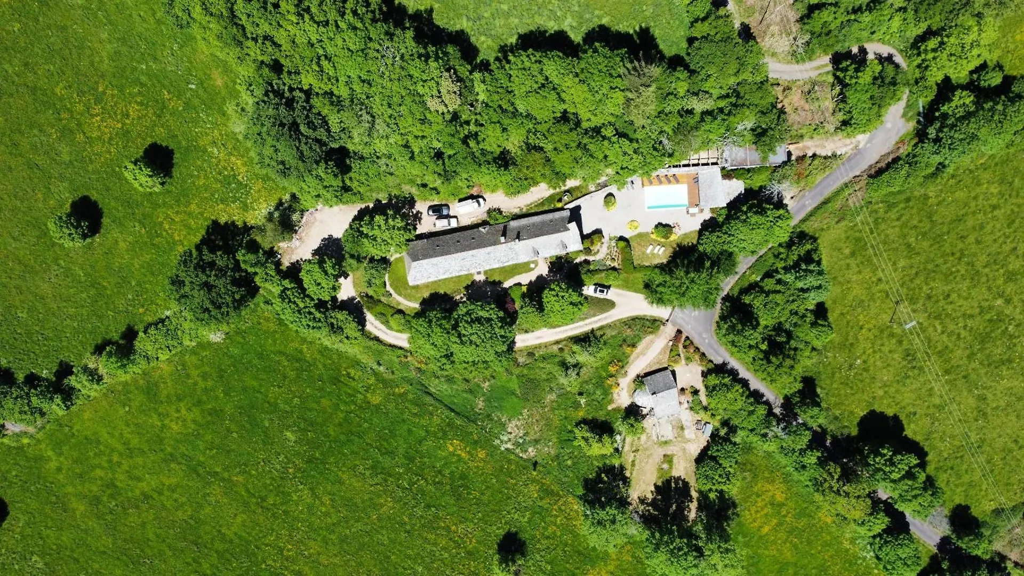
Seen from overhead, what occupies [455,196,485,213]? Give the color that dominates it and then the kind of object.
white vehicle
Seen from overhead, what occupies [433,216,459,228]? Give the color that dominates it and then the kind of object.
white vehicle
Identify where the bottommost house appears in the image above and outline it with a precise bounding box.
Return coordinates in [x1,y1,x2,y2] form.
[639,370,680,418]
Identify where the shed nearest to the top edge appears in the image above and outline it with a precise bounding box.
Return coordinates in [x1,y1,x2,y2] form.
[715,144,787,168]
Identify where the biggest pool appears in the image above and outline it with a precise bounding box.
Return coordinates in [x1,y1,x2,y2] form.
[643,182,690,212]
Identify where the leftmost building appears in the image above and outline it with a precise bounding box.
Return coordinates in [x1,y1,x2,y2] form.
[402,208,583,286]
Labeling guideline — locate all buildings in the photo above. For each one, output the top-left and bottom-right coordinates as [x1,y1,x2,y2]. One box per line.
[695,166,726,209]
[639,370,680,418]
[402,208,583,286]
[715,144,787,168]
